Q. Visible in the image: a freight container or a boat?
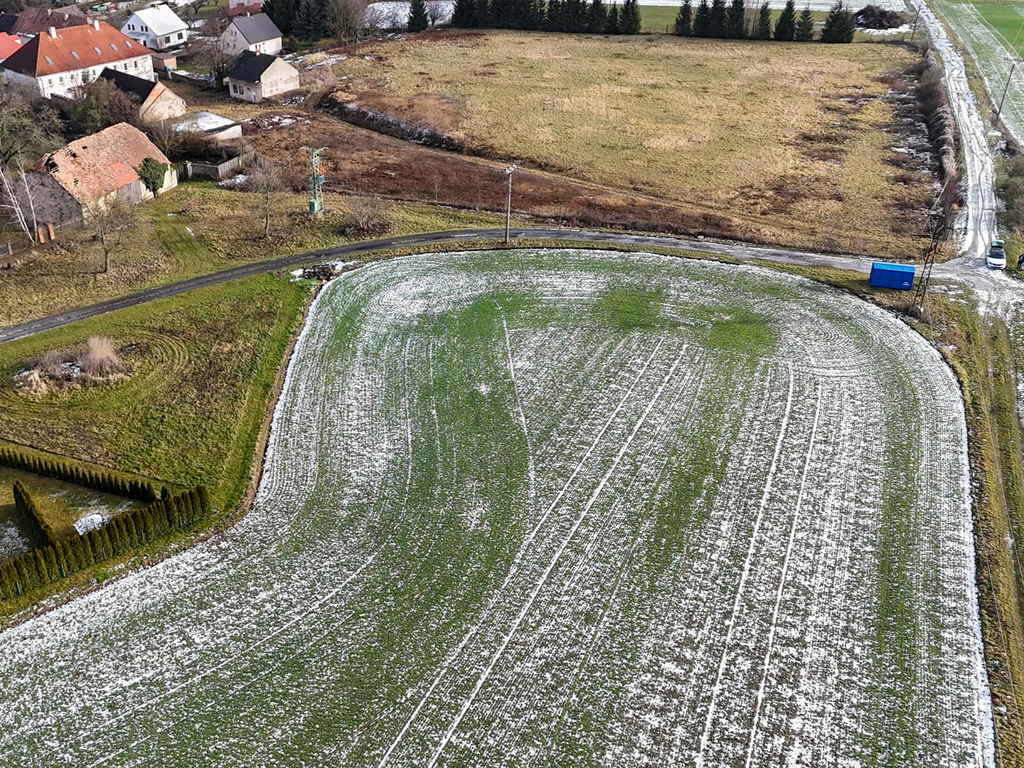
freight container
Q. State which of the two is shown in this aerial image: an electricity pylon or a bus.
electricity pylon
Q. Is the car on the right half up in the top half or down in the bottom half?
top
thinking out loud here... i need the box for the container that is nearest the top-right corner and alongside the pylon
[866,261,920,290]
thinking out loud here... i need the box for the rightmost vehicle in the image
[983,233,1012,266]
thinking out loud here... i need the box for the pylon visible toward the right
[909,202,969,312]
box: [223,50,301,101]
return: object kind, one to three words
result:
house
